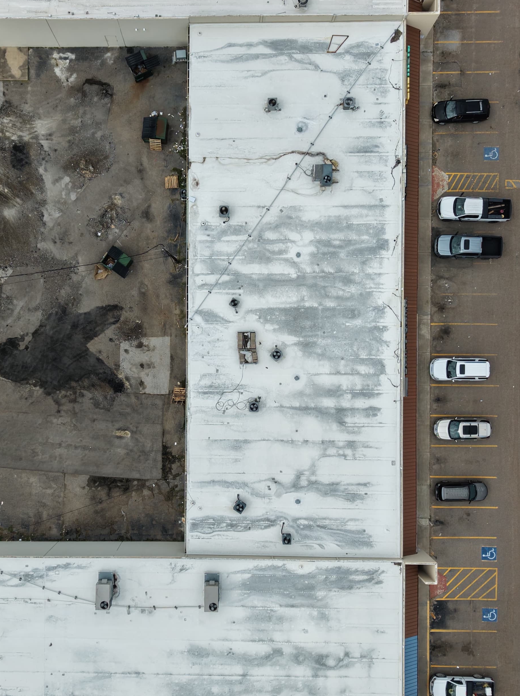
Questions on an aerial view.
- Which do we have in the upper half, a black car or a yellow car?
black car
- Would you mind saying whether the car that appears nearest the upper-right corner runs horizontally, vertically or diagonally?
horizontally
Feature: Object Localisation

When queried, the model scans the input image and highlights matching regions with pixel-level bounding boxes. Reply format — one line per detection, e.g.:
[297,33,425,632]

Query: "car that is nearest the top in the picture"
[432,98,491,128]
